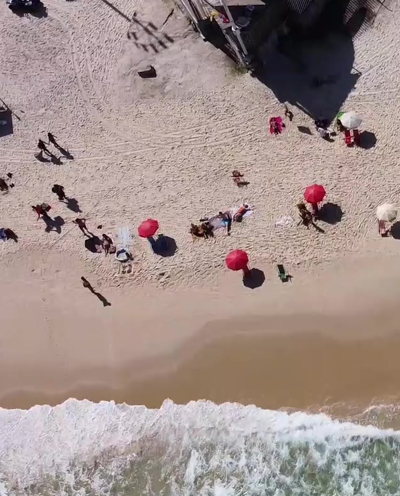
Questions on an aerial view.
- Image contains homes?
No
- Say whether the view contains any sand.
Yes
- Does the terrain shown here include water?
Yes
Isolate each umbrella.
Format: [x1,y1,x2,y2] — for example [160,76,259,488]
[139,222,161,241]
[377,208,400,225]
[304,188,328,206]
[226,251,252,274]
[341,115,363,133]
